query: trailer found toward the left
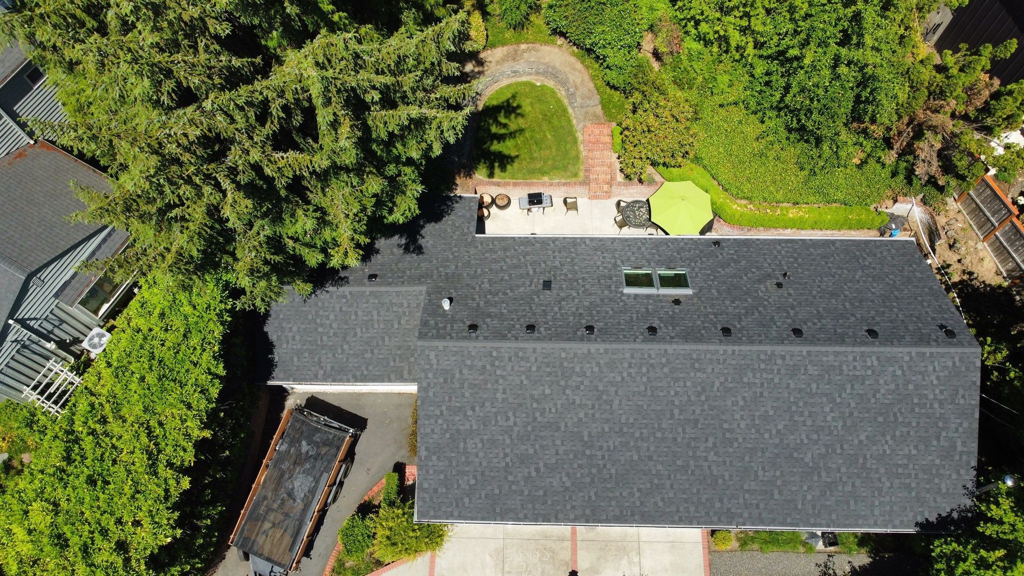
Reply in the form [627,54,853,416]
[229,404,360,576]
